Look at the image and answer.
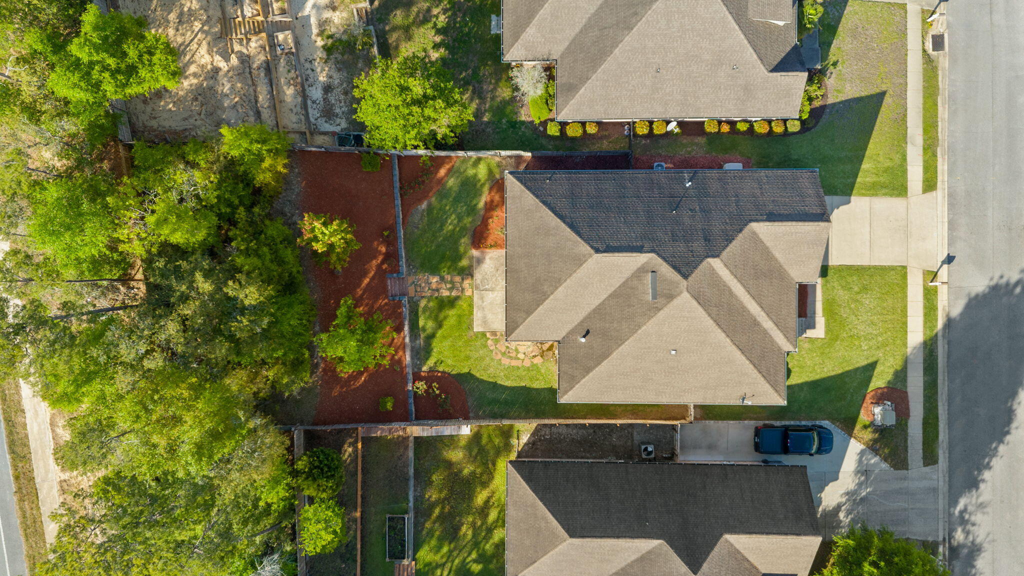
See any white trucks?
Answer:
No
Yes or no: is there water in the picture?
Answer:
No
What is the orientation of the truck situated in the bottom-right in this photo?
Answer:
from side to side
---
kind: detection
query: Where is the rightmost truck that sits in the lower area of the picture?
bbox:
[751,425,830,458]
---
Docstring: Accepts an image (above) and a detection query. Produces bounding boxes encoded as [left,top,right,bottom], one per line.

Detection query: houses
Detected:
[503,168,831,406]
[505,460,821,576]
[500,0,810,122]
